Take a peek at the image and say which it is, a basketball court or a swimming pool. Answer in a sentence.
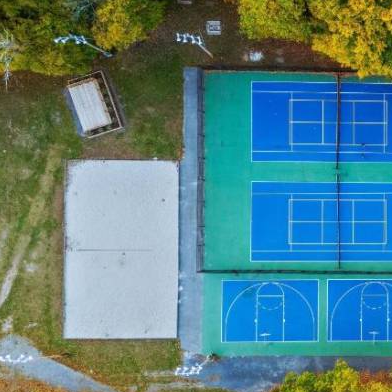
The one in the frame is a basketball court.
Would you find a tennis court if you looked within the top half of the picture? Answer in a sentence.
Yes, I can see a tennis court within the top half of the picture.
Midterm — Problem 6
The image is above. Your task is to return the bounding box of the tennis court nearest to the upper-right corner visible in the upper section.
[251,82,392,163]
